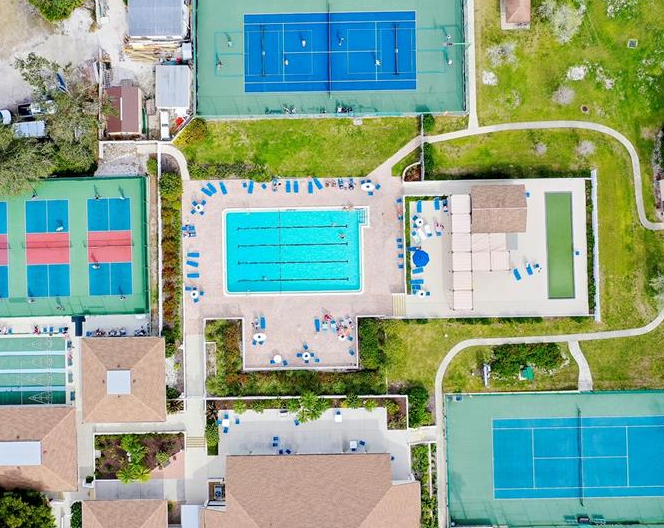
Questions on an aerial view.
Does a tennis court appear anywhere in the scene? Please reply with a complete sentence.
Yes, I can see a tennis court in this picture.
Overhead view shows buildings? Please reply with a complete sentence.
Yes, there's a building here.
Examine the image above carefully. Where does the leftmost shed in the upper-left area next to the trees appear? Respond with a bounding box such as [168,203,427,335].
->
[106,87,142,136]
